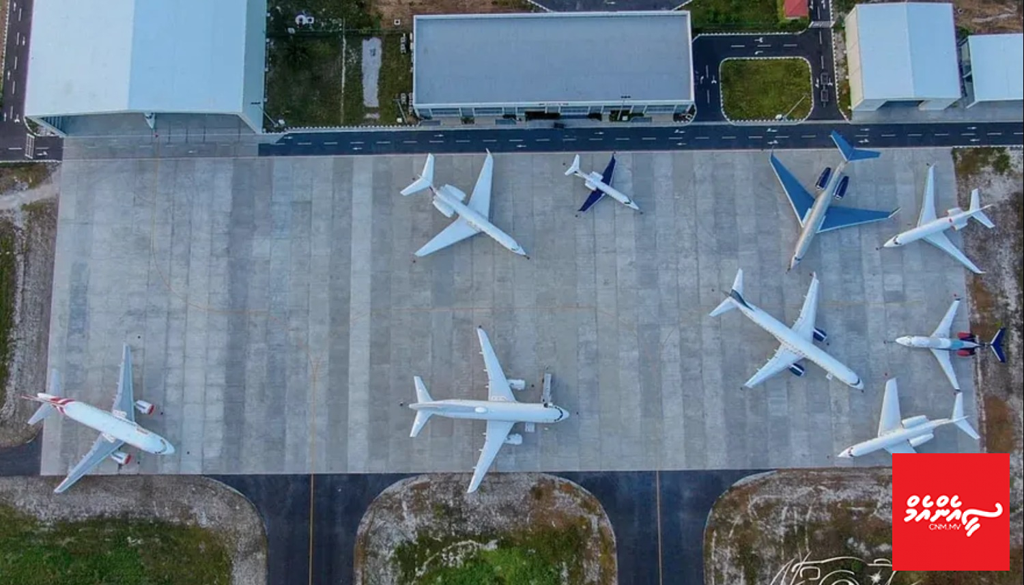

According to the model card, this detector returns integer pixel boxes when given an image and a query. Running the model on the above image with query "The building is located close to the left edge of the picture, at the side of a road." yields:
[27,0,267,136]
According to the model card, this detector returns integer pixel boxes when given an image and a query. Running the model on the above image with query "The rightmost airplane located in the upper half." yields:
[884,163,994,272]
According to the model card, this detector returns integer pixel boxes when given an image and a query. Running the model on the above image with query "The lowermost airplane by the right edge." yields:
[838,378,981,486]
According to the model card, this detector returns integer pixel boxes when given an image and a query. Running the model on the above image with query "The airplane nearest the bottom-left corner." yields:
[16,343,175,495]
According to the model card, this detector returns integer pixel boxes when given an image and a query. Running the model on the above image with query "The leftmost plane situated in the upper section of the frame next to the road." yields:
[401,148,525,256]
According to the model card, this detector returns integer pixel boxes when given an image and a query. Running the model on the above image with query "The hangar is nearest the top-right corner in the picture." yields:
[960,33,1024,109]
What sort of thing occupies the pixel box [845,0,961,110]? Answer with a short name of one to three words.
hangar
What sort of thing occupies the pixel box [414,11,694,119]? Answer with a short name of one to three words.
building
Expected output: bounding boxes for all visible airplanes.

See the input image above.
[16,343,175,495]
[884,163,994,272]
[408,329,569,492]
[710,270,863,388]
[896,299,1006,390]
[565,155,638,211]
[838,378,981,486]
[401,148,525,256]
[771,131,903,267]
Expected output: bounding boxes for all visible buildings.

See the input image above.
[960,33,1024,109]
[27,0,267,136]
[845,0,961,110]
[782,0,808,21]
[414,11,694,119]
